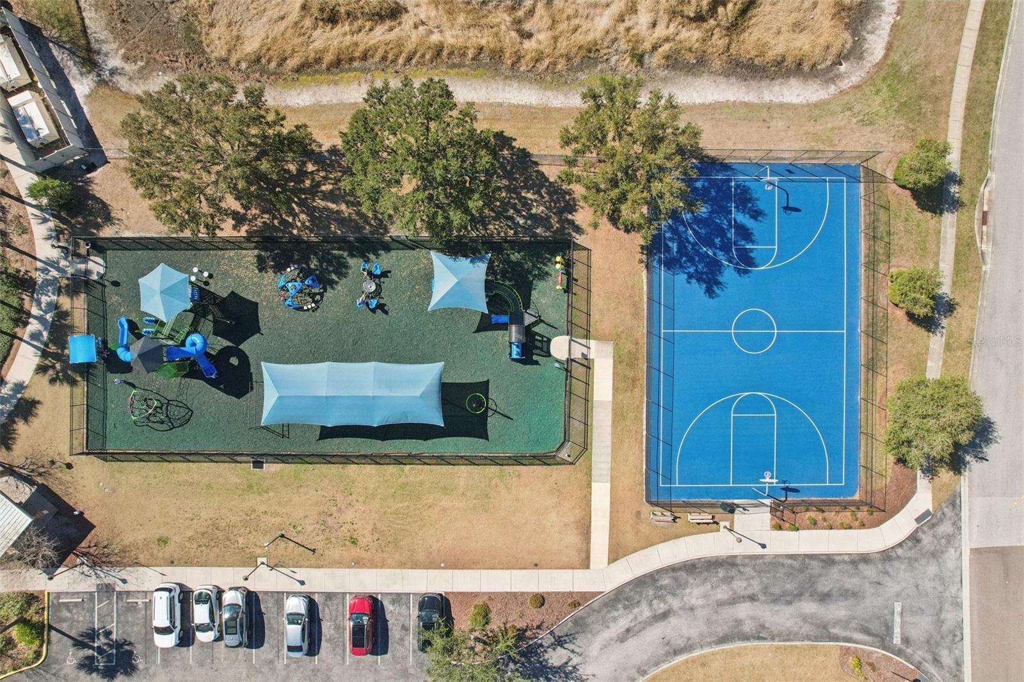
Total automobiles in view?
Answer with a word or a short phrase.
6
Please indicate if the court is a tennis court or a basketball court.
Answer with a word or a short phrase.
basketball court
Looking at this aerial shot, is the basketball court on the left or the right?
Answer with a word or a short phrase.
right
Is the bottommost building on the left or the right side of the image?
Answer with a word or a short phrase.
left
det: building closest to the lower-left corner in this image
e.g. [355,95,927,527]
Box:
[0,489,54,556]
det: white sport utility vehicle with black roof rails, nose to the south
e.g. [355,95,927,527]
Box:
[148,583,181,645]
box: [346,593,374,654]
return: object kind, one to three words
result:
car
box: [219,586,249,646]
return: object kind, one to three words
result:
car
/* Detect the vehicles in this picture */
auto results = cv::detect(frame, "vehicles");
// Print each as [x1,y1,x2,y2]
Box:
[190,586,219,641]
[219,586,249,646]
[346,593,374,654]
[280,593,309,654]
[148,583,181,645]
[418,591,446,652]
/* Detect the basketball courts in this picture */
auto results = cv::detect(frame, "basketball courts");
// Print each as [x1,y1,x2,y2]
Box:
[645,162,862,503]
